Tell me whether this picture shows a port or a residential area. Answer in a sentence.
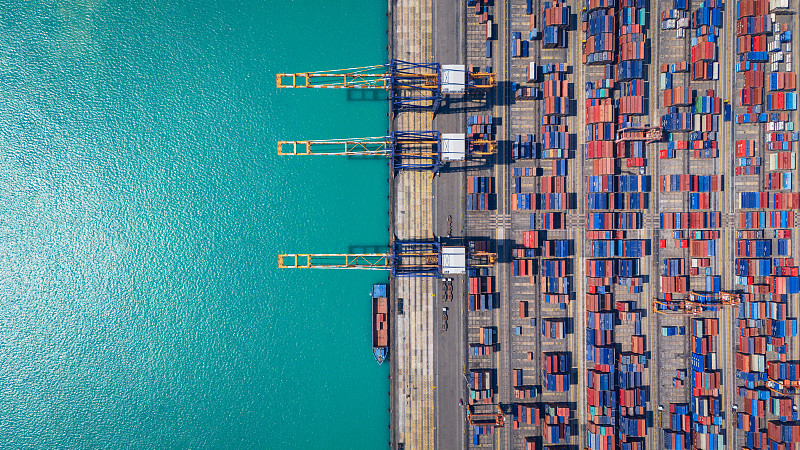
The picture captures a port.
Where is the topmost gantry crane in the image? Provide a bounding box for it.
[277,62,495,120]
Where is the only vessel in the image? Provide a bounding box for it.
[370,274,391,373]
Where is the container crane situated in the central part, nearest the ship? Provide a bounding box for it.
[278,236,496,280]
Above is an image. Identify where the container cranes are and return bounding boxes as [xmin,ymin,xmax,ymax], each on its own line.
[278,236,496,280]
[277,130,495,178]
[465,403,507,427]
[652,298,706,316]
[689,290,745,306]
[277,62,495,120]
[616,126,667,144]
